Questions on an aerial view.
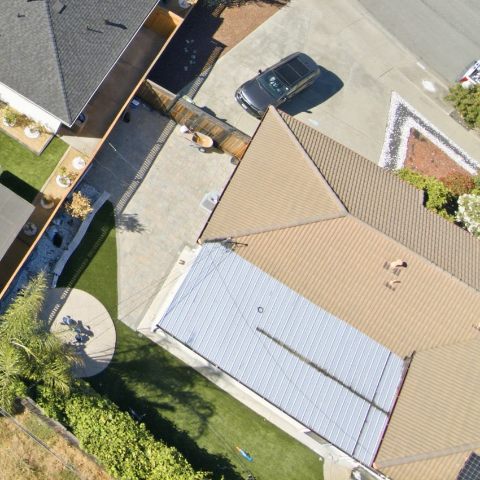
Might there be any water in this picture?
No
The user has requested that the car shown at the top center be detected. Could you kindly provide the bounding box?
[228,52,328,114]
